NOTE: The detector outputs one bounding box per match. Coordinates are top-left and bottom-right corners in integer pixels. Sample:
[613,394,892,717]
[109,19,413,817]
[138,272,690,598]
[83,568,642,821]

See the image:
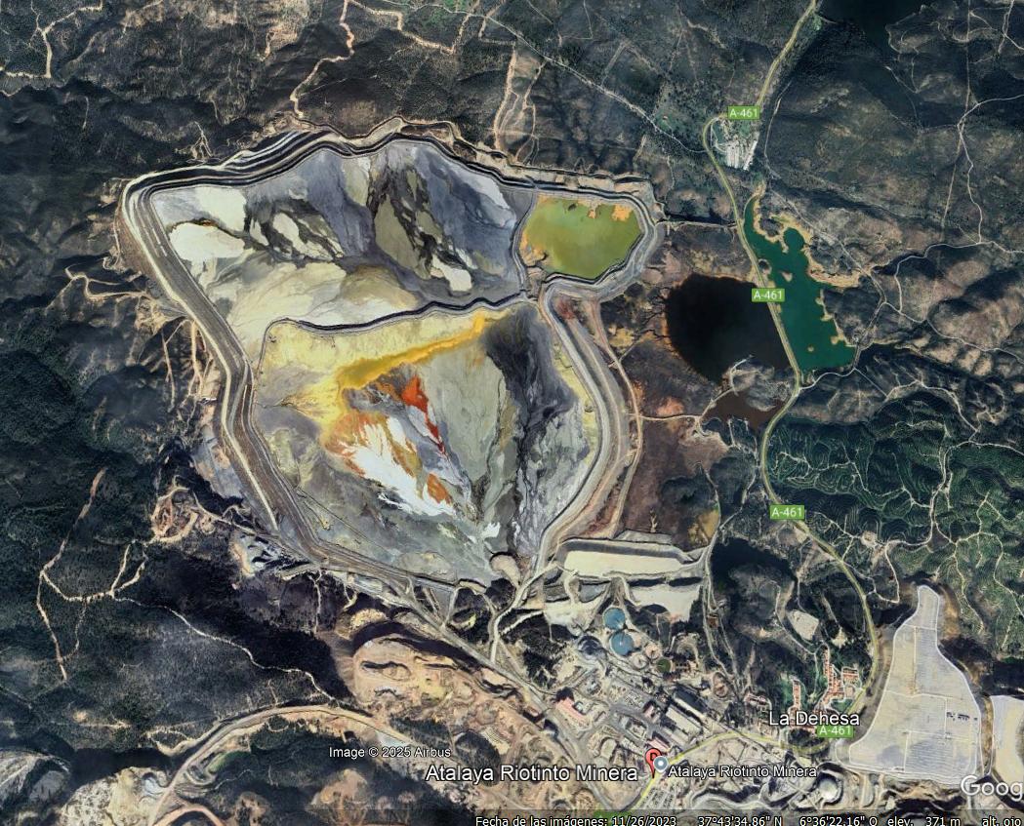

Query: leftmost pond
[523,197,640,278]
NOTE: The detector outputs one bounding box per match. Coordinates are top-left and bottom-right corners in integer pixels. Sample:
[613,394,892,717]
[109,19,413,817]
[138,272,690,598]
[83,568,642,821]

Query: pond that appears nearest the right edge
[745,202,852,367]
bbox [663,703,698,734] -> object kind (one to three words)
building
